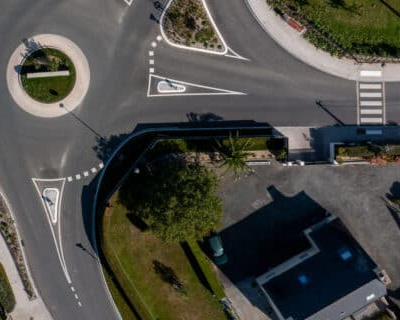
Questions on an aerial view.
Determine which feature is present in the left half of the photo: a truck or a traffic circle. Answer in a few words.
traffic circle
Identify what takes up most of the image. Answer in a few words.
paved ground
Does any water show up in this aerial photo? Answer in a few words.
No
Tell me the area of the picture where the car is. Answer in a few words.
bottom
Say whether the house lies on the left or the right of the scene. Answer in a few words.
right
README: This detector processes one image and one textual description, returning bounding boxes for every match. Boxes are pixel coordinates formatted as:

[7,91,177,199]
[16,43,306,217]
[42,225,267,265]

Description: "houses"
[255,213,386,320]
